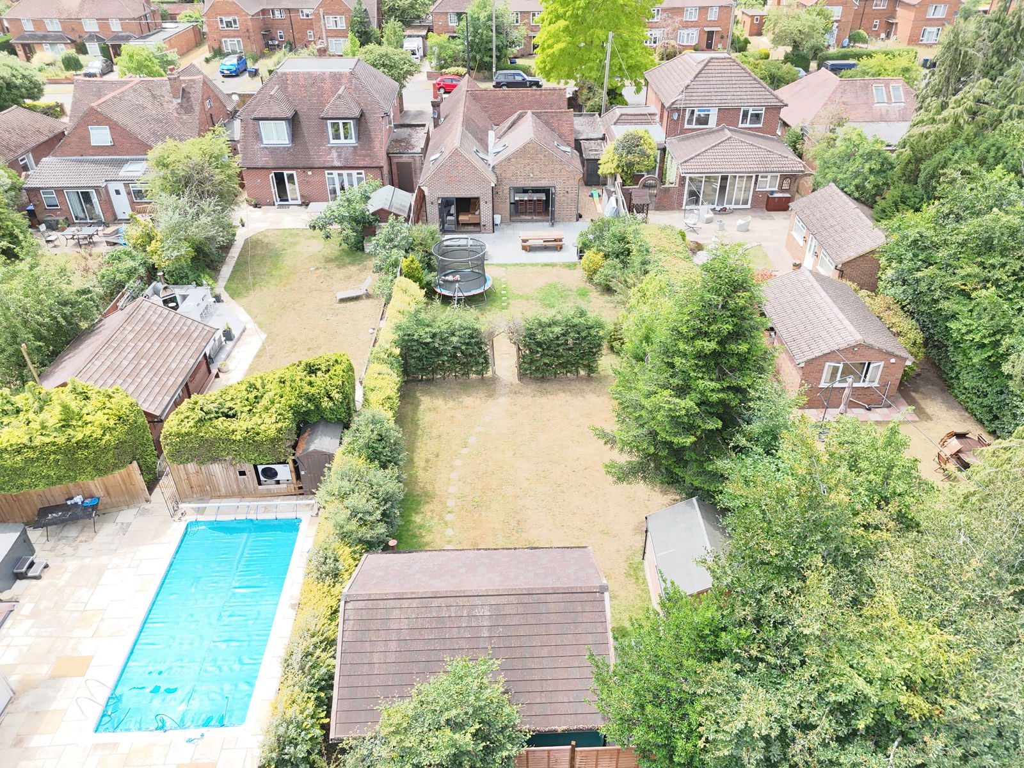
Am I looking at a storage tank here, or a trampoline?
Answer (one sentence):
The image shows a trampoline.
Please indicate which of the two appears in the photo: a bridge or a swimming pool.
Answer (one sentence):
The one in the frame is a swimming pool.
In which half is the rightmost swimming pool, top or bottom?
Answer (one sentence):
The rightmost swimming pool is in the bottom half of the image.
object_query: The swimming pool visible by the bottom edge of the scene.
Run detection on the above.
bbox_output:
[75,510,311,740]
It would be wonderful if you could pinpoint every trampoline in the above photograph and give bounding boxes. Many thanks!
[434,241,493,311]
